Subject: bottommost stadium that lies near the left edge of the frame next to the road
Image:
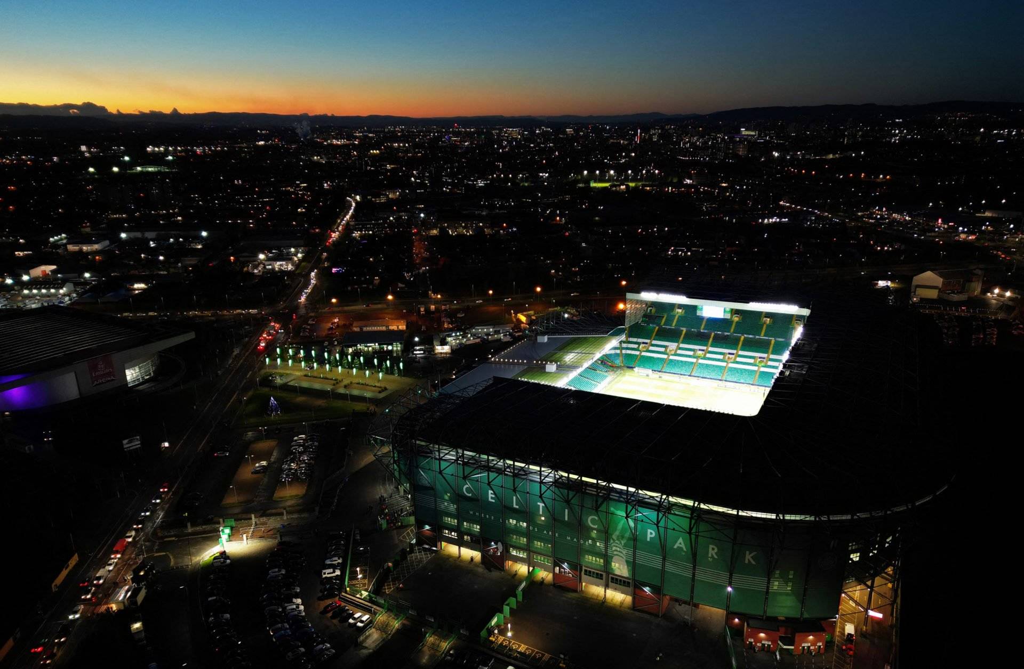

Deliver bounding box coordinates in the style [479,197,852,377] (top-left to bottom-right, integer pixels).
[0,305,195,411]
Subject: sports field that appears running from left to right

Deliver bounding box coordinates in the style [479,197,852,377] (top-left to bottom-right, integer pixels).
[600,371,770,417]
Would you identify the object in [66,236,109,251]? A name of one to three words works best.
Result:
building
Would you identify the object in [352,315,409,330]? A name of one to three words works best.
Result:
building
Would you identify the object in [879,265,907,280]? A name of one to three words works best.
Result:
house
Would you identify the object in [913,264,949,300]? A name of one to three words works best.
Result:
house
